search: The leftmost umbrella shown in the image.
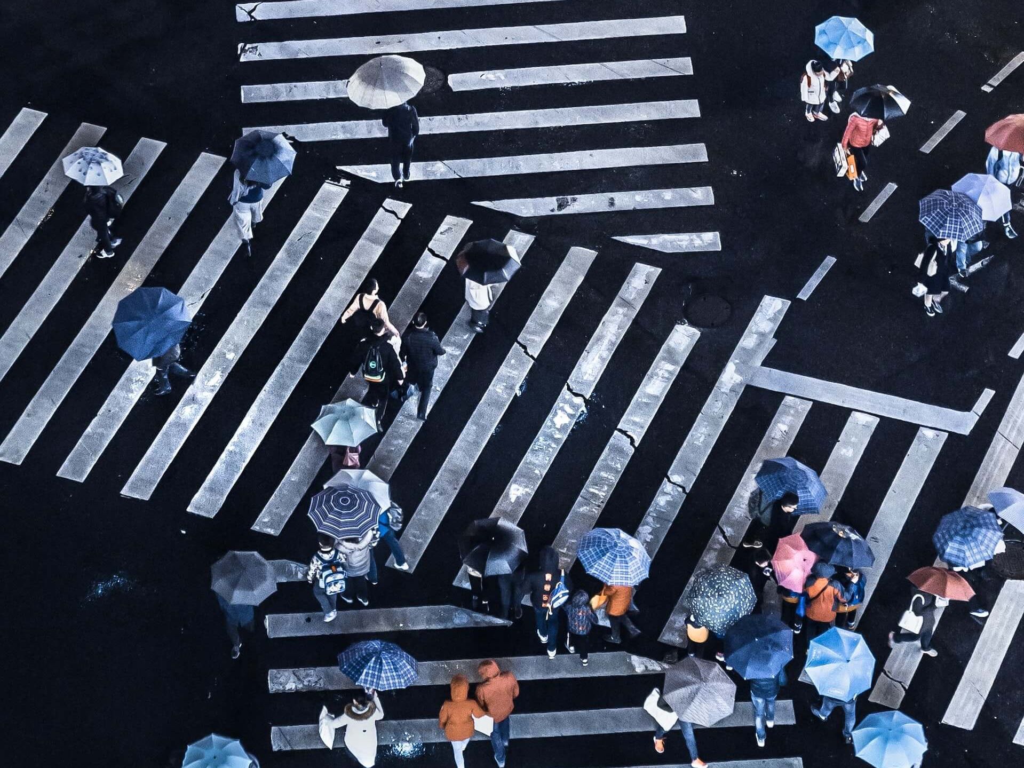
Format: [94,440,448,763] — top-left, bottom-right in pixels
[61,145,126,220]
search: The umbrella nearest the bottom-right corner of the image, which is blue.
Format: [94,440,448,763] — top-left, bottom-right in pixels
[851,708,929,768]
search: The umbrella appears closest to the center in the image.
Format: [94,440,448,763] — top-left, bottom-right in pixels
[454,235,521,294]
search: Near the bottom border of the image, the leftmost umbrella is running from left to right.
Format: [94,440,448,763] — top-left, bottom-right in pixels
[182,734,251,768]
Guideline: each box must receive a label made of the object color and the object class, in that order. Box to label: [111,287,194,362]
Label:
blue umbrella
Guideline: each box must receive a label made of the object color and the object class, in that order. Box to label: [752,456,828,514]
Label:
blue umbrella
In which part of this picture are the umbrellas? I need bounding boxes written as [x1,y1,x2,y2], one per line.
[984,112,1024,188]
[347,57,426,139]
[460,518,528,579]
[851,708,929,768]
[722,612,796,683]
[933,506,1005,569]
[801,516,876,572]
[312,397,379,471]
[987,481,1024,556]
[802,626,877,703]
[61,145,126,220]
[955,173,1014,222]
[182,734,251,768]
[577,528,651,596]
[919,190,983,242]
[454,235,521,294]
[229,130,297,192]
[905,561,978,618]
[307,488,378,541]
[111,287,194,362]
[337,638,419,704]
[813,16,875,73]
[662,656,738,730]
[686,565,758,634]
[850,82,911,138]
[211,550,278,612]
[752,456,828,514]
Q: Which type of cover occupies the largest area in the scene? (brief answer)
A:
paved ground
